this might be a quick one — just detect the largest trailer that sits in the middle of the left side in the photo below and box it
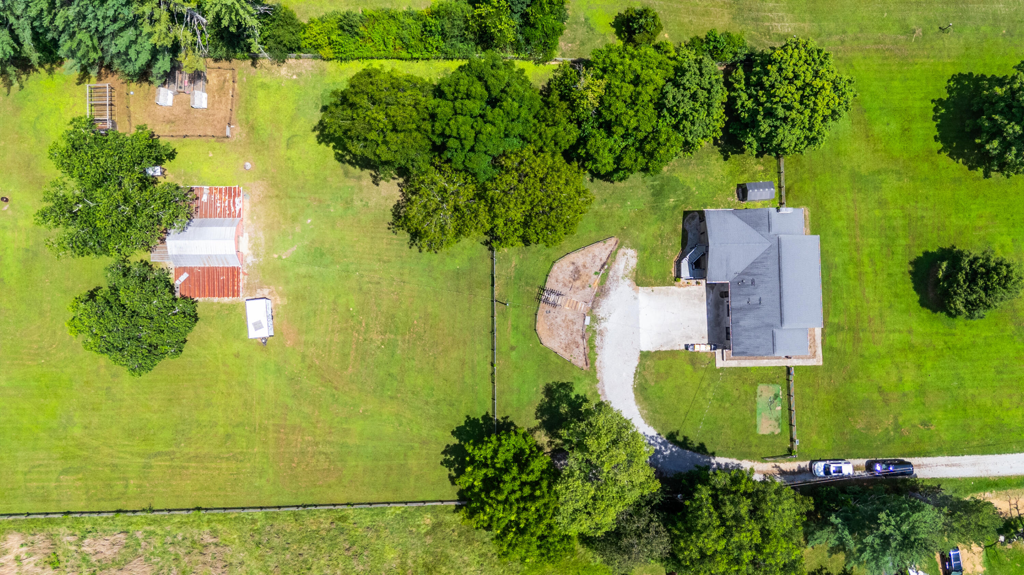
[245,298,275,348]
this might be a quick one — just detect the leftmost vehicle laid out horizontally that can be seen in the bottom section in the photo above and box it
[811,460,855,480]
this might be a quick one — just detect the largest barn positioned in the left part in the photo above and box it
[150,185,245,298]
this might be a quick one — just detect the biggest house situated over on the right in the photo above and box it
[698,203,821,357]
